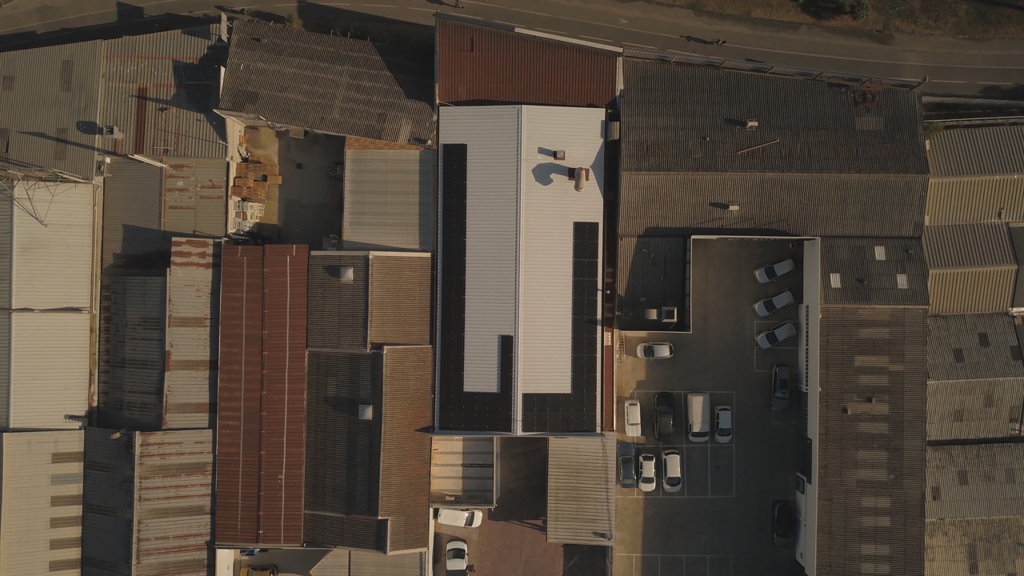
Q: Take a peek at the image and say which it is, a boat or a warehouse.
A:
warehouse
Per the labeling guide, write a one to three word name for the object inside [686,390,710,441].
vehicle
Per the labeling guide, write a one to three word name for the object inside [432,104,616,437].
warehouse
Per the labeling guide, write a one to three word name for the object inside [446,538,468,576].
truck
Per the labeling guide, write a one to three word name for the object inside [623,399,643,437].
car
